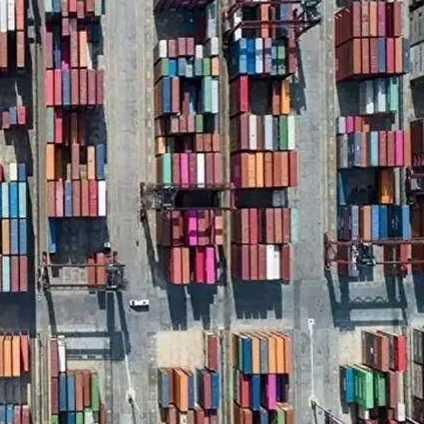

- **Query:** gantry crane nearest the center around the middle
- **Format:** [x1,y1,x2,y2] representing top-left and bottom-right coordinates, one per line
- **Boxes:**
[140,179,240,215]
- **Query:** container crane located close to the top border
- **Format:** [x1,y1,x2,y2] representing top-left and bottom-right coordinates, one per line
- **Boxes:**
[218,0,323,44]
